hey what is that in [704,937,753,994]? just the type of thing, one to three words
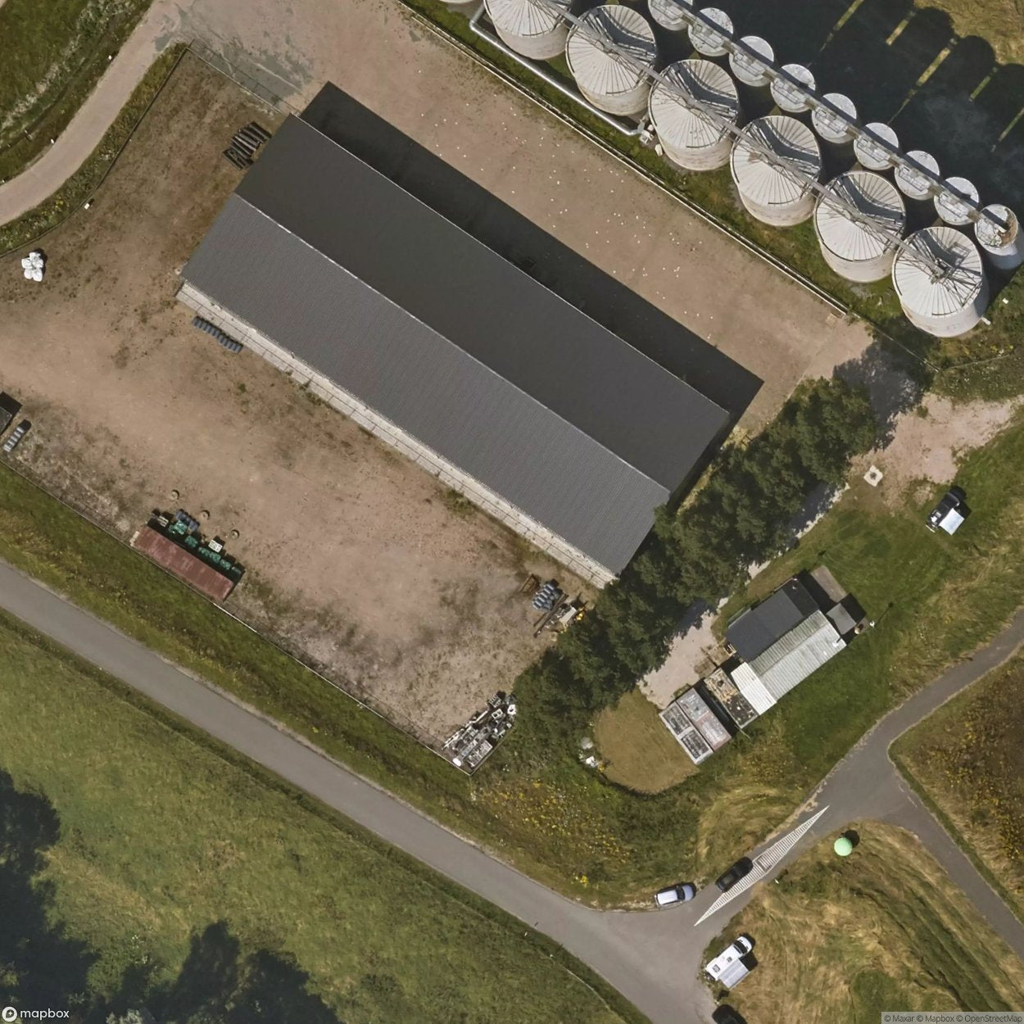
van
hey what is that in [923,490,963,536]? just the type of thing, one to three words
car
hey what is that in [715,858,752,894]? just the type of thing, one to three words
car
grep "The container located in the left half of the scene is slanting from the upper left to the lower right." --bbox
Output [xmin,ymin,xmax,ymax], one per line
[133,526,236,603]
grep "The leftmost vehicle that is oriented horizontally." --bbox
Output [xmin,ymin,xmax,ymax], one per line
[655,886,695,909]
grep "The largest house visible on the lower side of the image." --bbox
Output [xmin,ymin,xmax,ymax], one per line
[725,577,846,701]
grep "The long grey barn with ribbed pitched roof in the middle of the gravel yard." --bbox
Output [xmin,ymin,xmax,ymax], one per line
[181,115,728,577]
